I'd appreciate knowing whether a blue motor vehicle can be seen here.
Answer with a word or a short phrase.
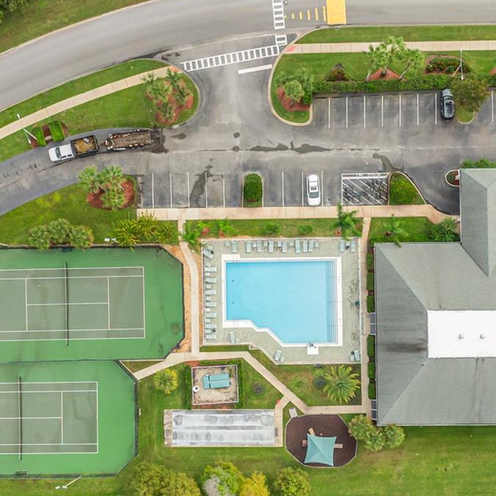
No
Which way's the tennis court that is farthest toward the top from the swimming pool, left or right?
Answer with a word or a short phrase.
left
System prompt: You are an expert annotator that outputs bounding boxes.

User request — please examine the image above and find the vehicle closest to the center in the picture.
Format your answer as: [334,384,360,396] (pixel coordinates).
[307,172,320,205]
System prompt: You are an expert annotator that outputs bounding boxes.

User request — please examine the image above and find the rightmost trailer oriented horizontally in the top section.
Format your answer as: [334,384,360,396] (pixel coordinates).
[100,128,162,150]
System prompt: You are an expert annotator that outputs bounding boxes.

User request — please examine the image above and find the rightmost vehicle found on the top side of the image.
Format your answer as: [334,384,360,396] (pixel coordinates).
[441,88,457,119]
